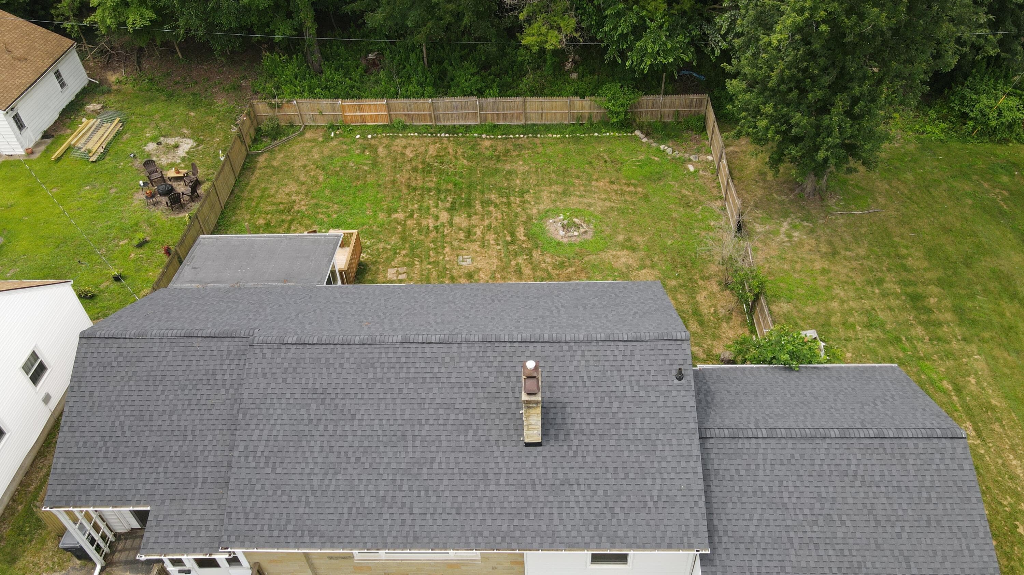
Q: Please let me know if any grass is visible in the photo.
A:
Yes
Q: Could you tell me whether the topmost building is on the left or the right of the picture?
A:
left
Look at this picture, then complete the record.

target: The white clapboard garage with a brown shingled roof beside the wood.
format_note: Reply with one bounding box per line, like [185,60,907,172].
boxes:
[0,7,105,154]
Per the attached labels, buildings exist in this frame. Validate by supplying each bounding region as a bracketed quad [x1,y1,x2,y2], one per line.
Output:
[41,229,1000,575]
[0,7,105,154]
